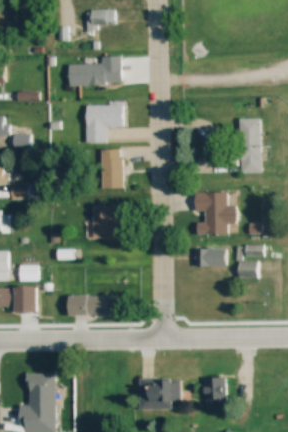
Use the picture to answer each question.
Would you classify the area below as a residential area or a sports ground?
residential area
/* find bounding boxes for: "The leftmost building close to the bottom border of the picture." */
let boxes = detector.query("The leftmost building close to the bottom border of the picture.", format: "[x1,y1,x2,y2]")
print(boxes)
[18,374,58,432]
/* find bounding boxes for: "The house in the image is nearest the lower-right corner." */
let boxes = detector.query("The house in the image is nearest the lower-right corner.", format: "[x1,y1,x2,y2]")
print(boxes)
[212,378,228,400]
